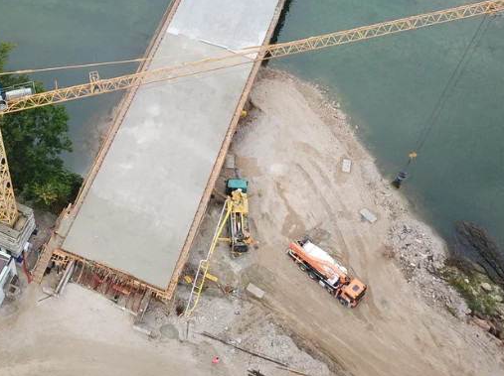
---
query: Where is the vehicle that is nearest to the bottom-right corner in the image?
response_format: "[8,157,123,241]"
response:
[287,241,373,303]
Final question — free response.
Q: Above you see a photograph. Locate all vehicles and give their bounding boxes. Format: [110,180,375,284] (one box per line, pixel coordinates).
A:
[178,166,268,343]
[287,241,373,303]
